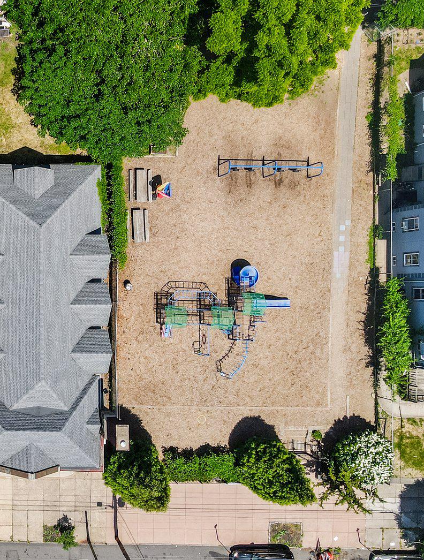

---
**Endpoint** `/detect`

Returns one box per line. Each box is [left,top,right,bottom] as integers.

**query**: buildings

[390,89,424,331]
[0,160,131,483]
